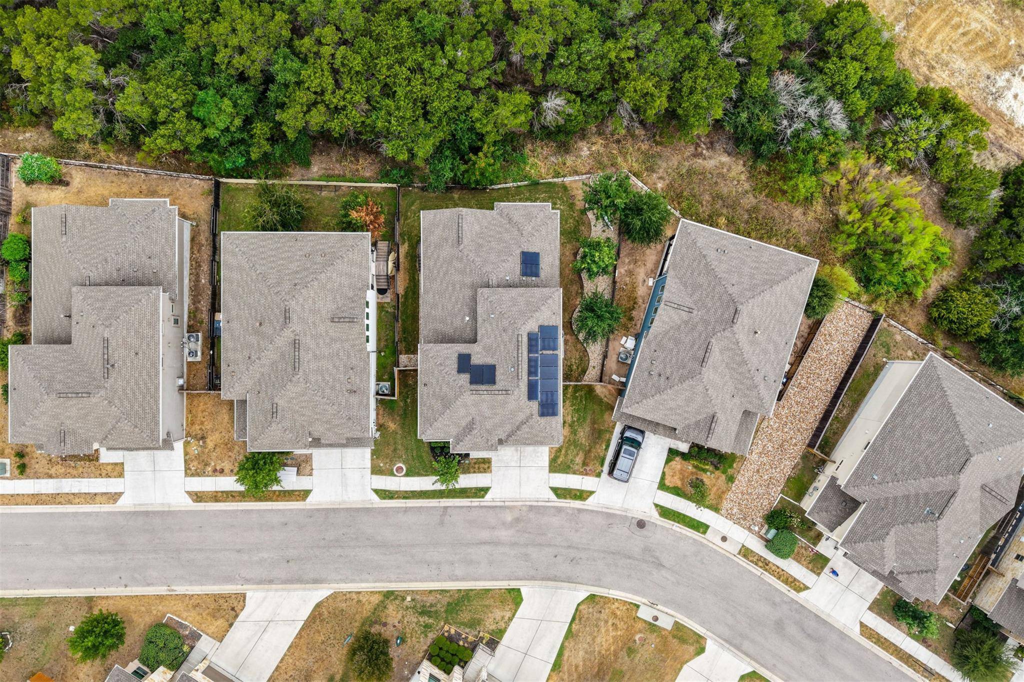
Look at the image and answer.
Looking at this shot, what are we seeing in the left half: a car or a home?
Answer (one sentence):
Looking in the left half, you will find a home.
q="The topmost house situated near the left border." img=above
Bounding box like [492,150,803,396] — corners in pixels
[7,197,194,456]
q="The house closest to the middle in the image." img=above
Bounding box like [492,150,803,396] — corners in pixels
[416,201,563,455]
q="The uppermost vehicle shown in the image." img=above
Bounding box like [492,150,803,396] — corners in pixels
[609,426,644,486]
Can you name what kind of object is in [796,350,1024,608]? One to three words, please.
house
